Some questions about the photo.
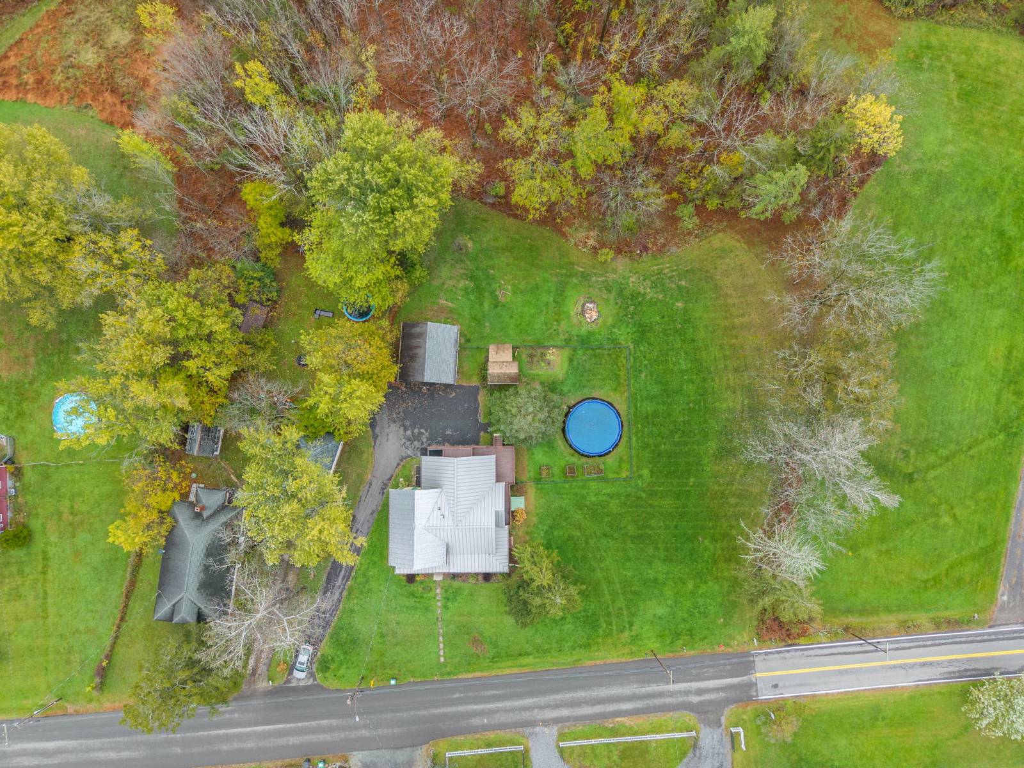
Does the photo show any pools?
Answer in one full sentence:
Yes, there is a pool in the image.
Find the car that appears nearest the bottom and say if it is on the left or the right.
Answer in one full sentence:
You can find the car that appears nearest the bottom on the left side of the picture.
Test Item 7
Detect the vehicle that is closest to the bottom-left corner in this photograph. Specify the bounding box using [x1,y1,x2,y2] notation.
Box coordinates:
[293,642,314,679]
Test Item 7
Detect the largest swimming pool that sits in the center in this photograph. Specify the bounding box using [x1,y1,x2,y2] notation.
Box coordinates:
[564,398,623,456]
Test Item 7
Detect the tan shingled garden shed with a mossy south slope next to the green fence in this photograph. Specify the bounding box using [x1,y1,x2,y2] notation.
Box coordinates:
[487,344,518,384]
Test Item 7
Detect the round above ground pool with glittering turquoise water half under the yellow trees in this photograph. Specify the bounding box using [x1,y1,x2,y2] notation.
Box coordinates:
[51,391,88,438]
